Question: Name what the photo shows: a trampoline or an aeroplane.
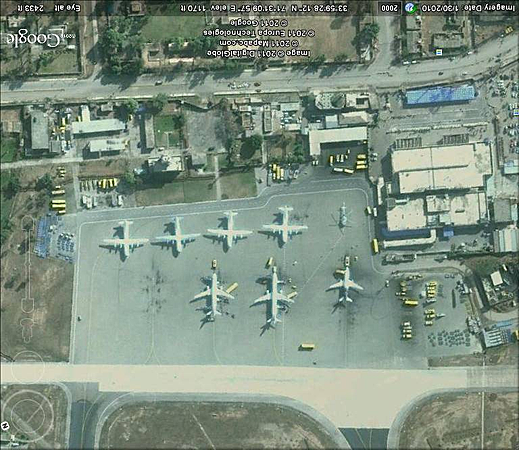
aeroplane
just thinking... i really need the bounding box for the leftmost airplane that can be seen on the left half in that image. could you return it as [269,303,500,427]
[103,219,149,256]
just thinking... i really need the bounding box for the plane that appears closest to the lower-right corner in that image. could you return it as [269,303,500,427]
[328,268,366,304]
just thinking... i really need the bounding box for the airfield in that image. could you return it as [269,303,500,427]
[0,179,519,450]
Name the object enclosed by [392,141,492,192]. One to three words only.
building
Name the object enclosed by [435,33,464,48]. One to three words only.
house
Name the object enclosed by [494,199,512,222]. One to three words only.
shed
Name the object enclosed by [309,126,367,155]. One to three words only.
hangar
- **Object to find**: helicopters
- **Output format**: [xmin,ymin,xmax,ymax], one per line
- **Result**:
[332,205,356,233]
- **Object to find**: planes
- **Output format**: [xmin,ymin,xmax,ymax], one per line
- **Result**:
[207,210,253,247]
[252,267,299,323]
[263,206,309,242]
[195,273,236,316]
[156,215,201,251]
[103,219,149,256]
[328,268,366,304]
